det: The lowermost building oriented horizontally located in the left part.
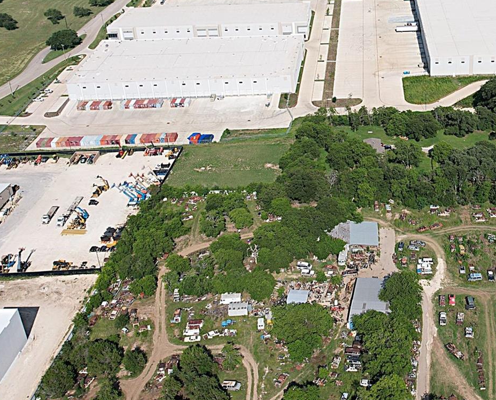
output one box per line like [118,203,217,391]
[67,34,298,99]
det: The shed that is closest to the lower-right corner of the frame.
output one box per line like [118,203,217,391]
[348,276,390,334]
